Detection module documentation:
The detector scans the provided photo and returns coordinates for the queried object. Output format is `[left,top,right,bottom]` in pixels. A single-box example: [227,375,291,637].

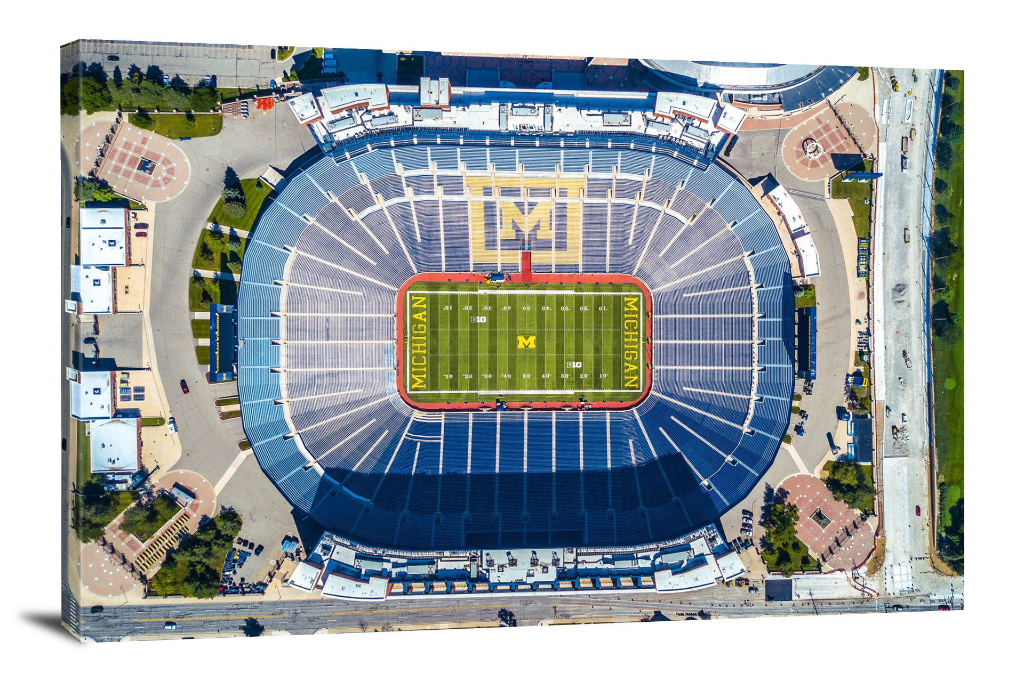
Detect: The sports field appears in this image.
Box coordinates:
[397,273,652,411]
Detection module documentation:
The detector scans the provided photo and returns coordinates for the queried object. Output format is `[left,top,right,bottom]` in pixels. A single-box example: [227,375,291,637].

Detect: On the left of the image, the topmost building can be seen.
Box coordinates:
[81,208,133,266]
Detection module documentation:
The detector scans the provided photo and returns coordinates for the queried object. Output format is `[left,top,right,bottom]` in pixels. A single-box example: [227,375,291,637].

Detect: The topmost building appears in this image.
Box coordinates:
[762,184,807,235]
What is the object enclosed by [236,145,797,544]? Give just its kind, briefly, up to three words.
stadium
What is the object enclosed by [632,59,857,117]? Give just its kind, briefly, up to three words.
stadium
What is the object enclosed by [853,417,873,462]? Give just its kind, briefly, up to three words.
shed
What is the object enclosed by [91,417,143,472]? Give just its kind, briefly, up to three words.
building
